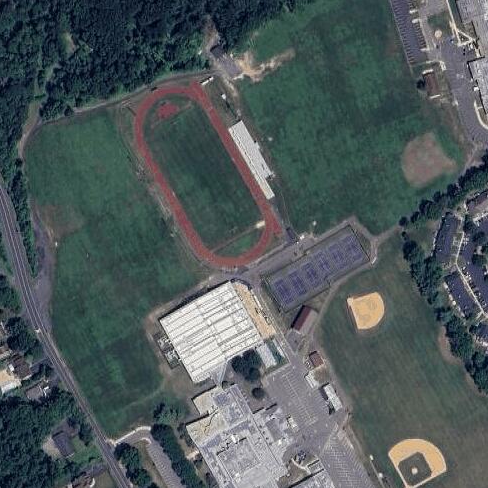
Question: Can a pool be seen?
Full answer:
No, I find no pool anywhere in the image.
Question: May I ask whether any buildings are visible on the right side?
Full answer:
Yes, the scene does show a building on the right side.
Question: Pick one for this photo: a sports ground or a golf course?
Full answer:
This looks like a sports ground.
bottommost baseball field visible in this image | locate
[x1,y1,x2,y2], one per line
[388,439,446,488]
